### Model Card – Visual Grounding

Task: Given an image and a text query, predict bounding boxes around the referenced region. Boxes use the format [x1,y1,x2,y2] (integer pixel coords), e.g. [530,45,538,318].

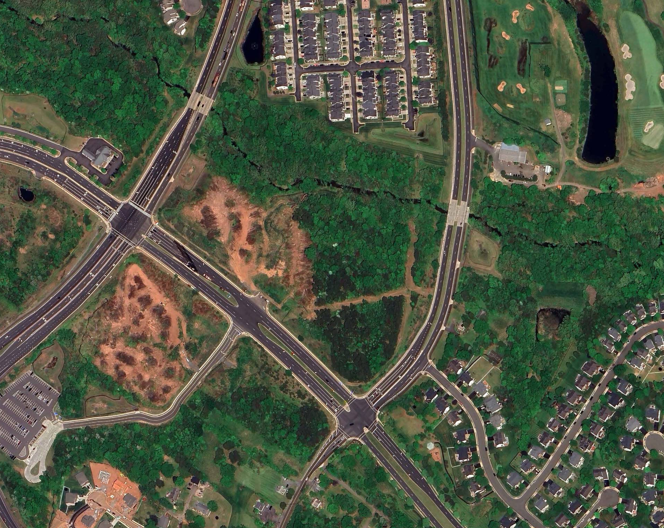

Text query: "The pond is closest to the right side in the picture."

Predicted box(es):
[566,0,618,163]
